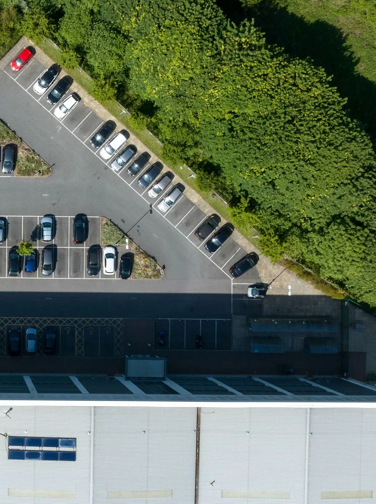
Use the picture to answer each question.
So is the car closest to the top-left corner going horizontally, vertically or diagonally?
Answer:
diagonally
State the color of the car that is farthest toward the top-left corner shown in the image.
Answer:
red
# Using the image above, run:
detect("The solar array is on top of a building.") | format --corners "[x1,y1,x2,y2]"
[8,436,77,463]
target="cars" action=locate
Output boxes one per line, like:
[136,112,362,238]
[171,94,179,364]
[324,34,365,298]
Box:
[118,256,132,279]
[102,246,116,275]
[229,252,259,278]
[33,63,61,94]
[24,252,36,274]
[86,247,100,275]
[2,146,14,174]
[101,129,130,160]
[41,248,54,276]
[7,248,21,276]
[41,217,54,243]
[111,144,137,171]
[205,223,235,252]
[25,328,36,353]
[137,161,164,189]
[47,75,74,105]
[90,119,117,148]
[54,91,81,119]
[194,214,221,241]
[157,185,185,213]
[0,219,6,244]
[127,150,152,176]
[73,217,85,244]
[246,285,266,298]
[147,173,173,199]
[9,46,35,73]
